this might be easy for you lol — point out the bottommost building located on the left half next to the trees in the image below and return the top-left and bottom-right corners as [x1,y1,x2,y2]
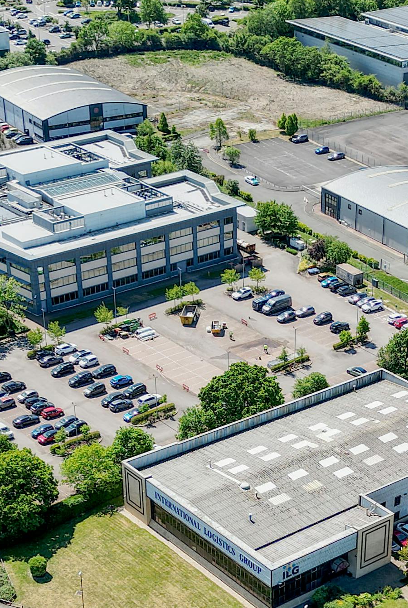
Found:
[0,128,248,317]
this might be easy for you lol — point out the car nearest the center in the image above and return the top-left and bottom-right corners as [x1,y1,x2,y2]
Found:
[230,285,254,301]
